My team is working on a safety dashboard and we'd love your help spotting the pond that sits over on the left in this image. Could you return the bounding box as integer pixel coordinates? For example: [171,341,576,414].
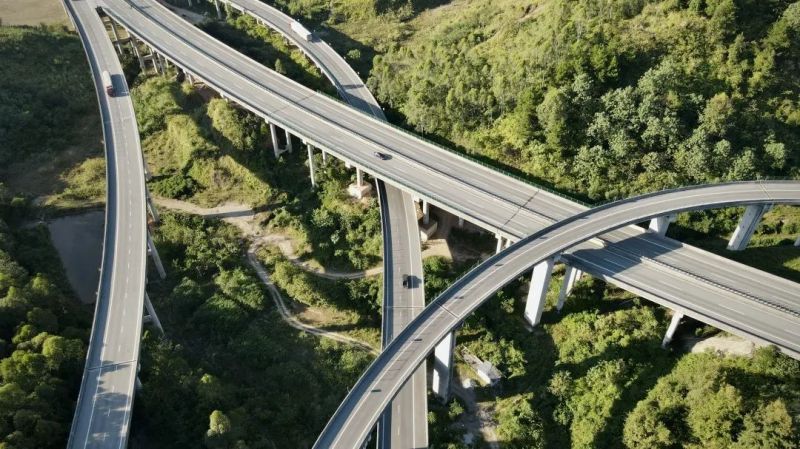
[53,211,105,295]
